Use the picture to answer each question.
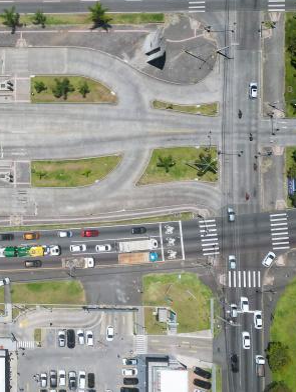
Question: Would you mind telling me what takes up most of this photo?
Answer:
paved ground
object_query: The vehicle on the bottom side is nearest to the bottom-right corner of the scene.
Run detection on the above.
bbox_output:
[253,351,266,376]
